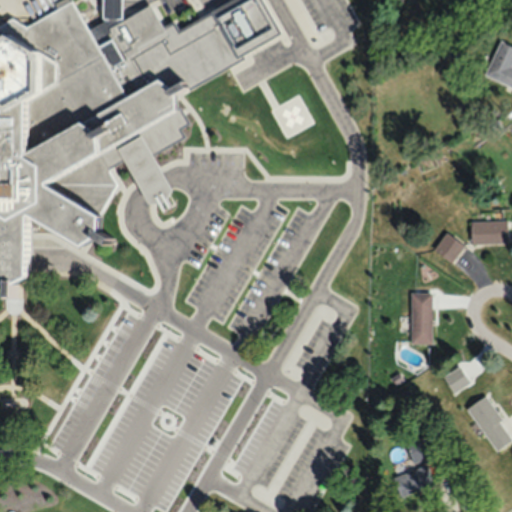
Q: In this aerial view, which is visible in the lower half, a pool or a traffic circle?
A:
pool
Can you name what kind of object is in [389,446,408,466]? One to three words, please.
swimming pool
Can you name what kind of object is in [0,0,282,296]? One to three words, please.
building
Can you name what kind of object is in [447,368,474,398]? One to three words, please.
house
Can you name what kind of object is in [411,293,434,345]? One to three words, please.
house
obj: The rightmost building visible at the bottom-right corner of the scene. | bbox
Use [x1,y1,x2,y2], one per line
[466,397,512,452]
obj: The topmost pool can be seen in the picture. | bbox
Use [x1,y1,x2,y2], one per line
[395,341,429,376]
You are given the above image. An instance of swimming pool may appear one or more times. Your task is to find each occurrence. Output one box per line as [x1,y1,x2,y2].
[395,341,429,376]
[389,446,408,466]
